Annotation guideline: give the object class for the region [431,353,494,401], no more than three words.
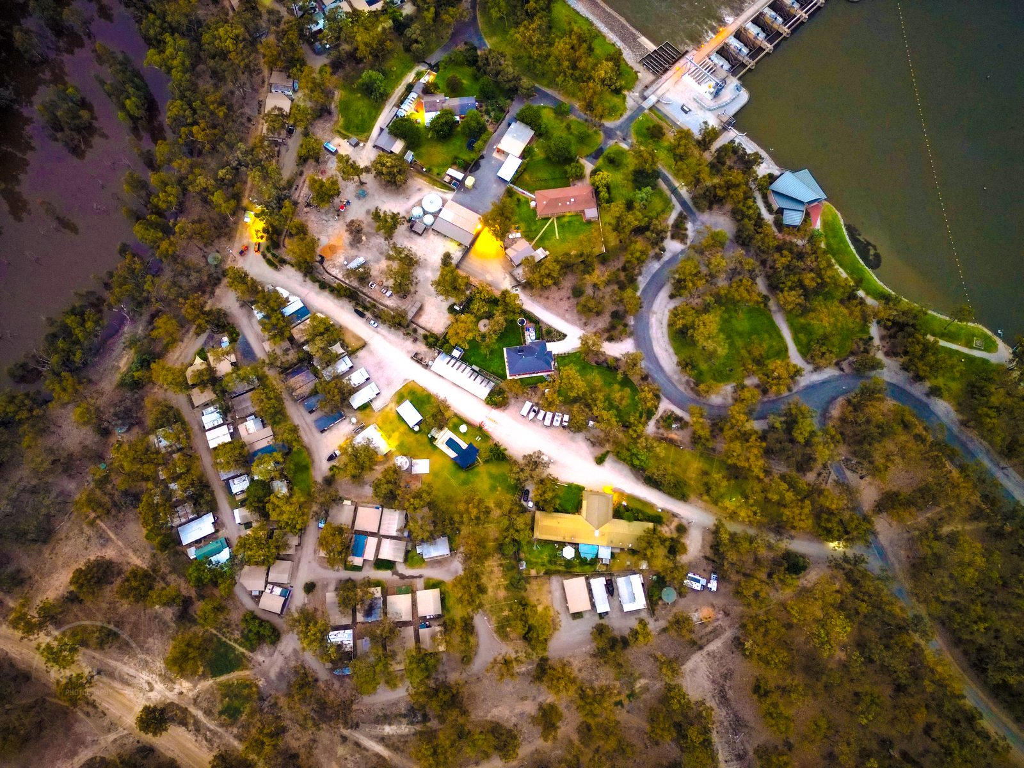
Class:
shed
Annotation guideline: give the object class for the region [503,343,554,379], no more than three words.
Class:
house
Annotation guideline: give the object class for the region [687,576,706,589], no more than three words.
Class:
vehicle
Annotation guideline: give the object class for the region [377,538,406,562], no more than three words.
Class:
building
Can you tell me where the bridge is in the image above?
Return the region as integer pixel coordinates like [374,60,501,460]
[642,0,776,110]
